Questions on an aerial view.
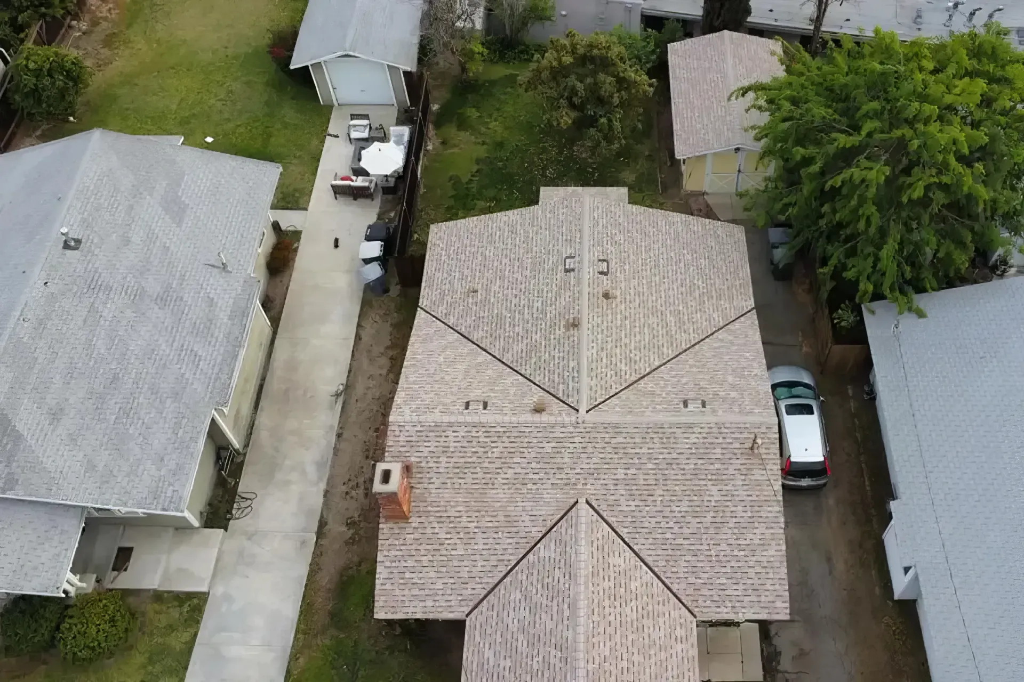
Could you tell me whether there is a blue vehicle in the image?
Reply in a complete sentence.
No, there appears to be no blue vehicle in this shot.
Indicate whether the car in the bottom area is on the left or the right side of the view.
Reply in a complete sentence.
It is on the right.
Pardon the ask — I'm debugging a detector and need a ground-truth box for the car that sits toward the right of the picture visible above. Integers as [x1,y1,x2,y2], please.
[767,367,835,491]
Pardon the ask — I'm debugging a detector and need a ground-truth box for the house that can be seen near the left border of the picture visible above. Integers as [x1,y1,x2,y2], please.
[0,126,283,607]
